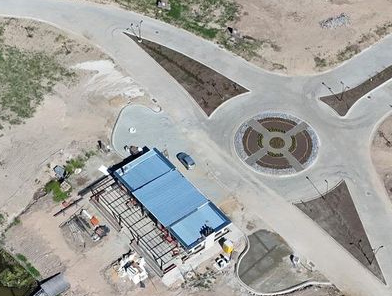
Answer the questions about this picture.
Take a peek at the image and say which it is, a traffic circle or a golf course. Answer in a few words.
traffic circle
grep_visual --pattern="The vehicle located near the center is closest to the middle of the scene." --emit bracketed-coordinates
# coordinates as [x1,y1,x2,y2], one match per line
[176,153,196,170]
